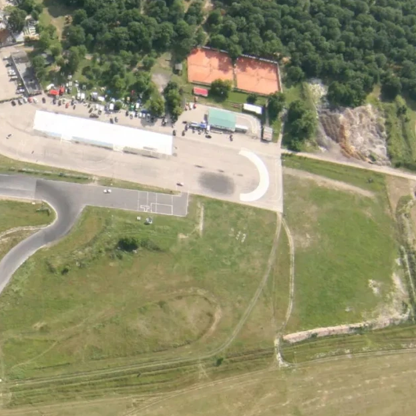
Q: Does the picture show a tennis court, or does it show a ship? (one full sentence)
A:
The one in the frame is a tennis court.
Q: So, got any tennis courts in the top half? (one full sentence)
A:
Yes, a tennis court can be seen in the top half.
